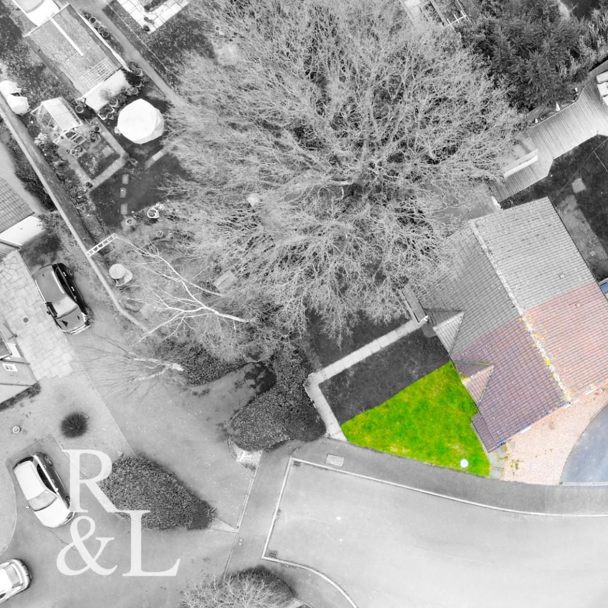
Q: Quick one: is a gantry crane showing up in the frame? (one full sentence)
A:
No, there is no gantry crane in the image.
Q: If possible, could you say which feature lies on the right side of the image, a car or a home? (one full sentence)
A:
The one visible on the right side of the image is a home.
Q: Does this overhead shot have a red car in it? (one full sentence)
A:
No, I can see no red car in this picture.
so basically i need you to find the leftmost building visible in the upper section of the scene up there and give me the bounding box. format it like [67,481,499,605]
[0,176,45,259]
